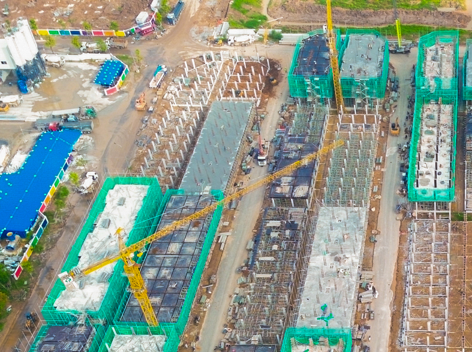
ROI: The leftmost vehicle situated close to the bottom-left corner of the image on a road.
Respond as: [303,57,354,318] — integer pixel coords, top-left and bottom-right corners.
[19,309,36,329]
